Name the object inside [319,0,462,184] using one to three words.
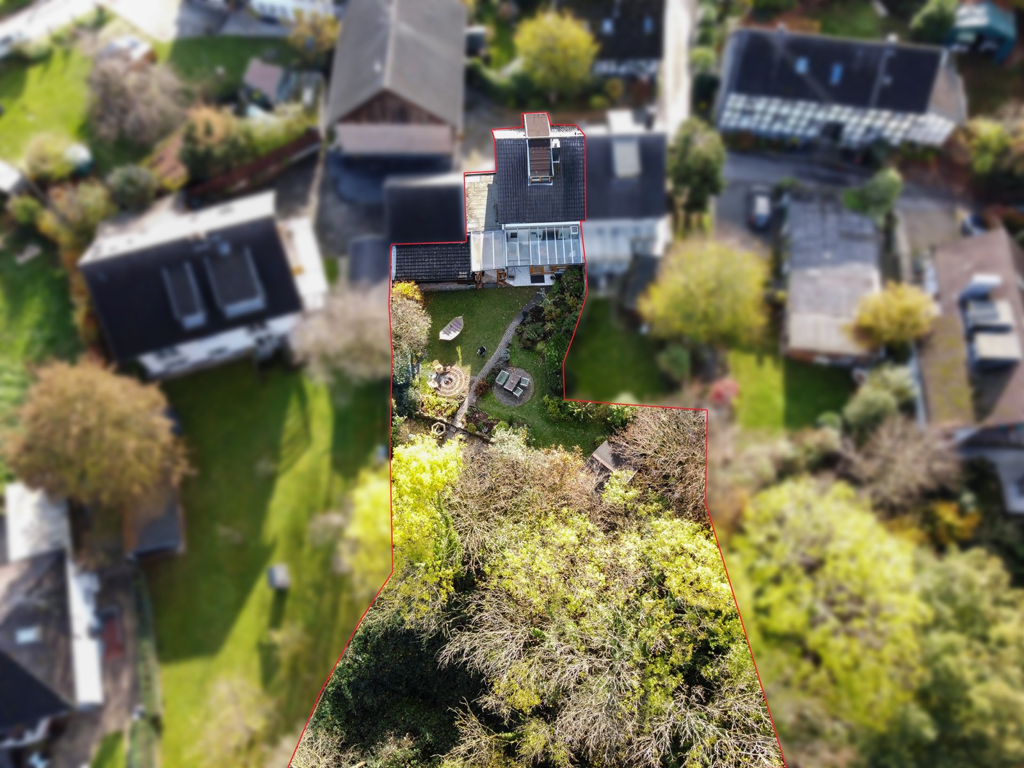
barn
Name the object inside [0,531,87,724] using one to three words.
house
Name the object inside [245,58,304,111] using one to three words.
shed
